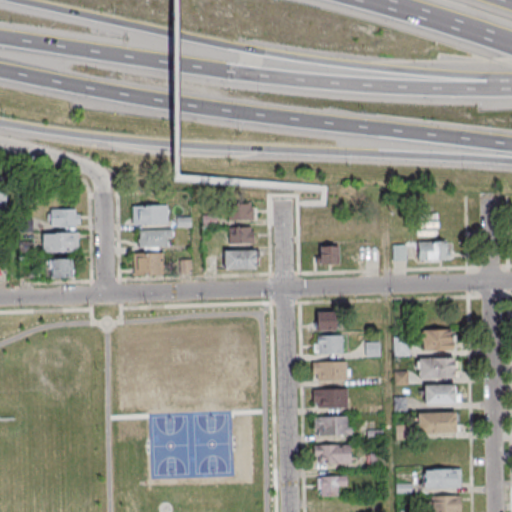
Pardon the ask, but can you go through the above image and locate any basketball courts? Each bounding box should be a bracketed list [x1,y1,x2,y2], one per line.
[190,412,234,477]
[150,412,193,478]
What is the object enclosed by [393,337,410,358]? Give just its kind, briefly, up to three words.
building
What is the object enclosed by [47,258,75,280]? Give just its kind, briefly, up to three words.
house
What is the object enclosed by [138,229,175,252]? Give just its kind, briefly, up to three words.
house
